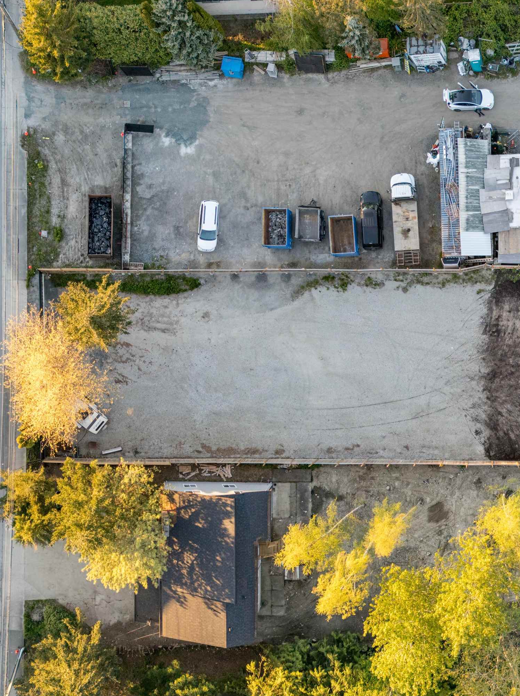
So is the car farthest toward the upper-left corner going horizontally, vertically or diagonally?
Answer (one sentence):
In this picture, the car farthest toward the upper-left corner lies vertically.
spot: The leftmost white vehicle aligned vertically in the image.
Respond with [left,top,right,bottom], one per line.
[196,201,222,252]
